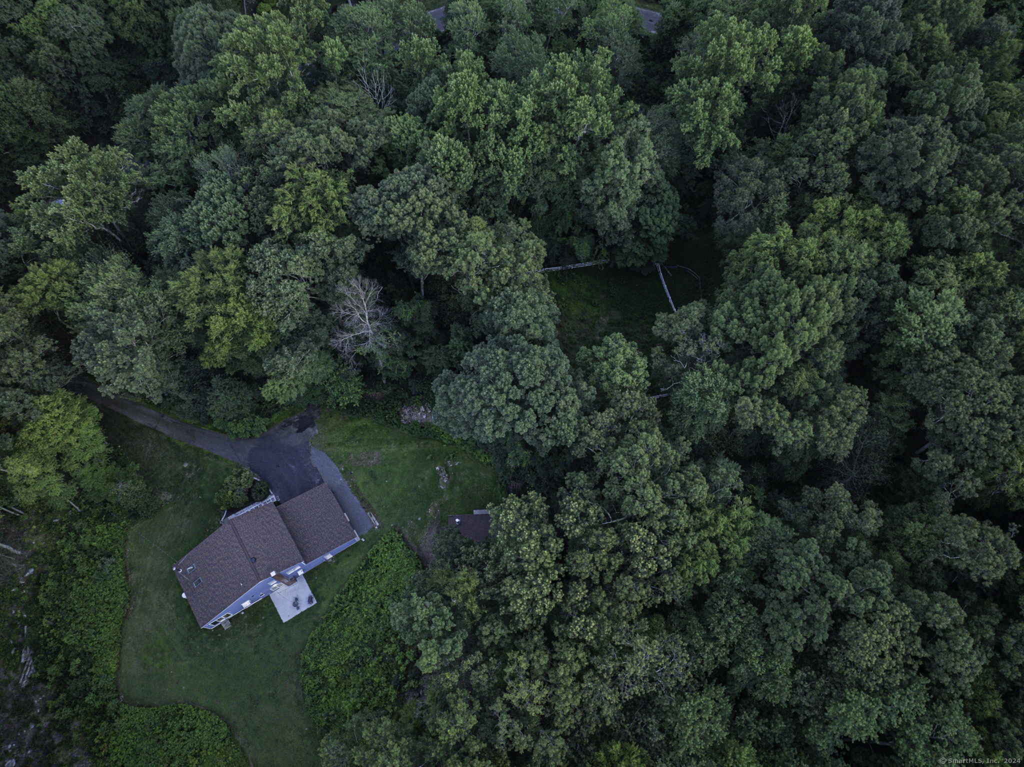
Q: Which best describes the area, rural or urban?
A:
rural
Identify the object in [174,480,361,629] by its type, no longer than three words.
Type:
house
